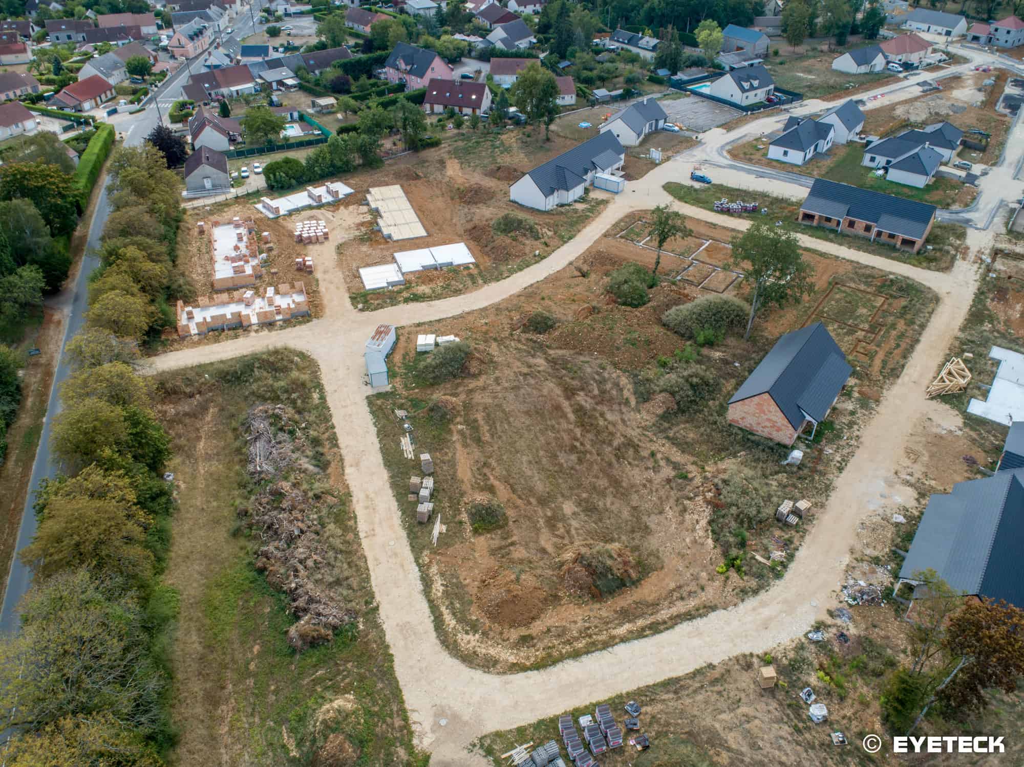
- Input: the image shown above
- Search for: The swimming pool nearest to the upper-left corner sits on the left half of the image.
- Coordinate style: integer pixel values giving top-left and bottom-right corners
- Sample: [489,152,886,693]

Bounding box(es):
[281,123,304,137]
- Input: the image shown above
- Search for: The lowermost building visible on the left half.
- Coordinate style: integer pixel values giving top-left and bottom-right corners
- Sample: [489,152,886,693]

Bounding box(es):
[365,354,393,397]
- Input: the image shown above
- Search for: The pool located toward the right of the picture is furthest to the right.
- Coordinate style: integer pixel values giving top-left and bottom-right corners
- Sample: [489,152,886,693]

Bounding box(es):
[685,81,712,93]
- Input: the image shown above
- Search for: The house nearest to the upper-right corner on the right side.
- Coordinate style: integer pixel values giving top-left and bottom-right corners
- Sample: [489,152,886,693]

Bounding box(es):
[978,15,1024,46]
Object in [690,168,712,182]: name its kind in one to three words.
vehicle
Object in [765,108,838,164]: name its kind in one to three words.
house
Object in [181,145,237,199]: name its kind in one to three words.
house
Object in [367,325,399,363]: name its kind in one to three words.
building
